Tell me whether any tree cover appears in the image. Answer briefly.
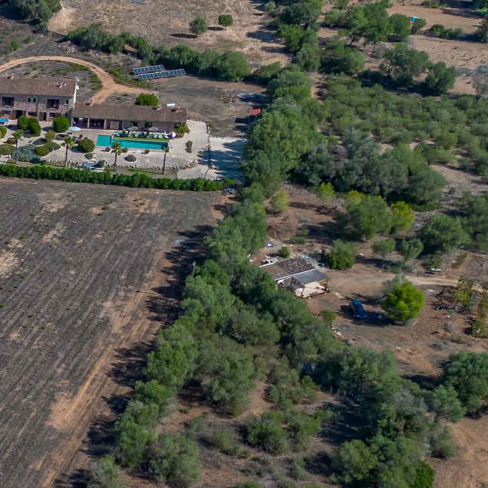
Yes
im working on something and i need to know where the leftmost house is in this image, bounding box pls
[0,73,82,123]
